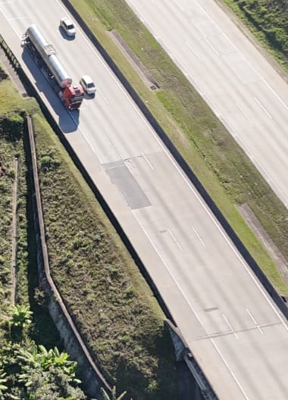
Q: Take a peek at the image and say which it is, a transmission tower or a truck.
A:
truck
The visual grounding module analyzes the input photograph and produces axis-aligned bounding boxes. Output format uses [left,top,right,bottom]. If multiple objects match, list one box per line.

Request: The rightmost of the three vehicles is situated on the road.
[78,77,97,96]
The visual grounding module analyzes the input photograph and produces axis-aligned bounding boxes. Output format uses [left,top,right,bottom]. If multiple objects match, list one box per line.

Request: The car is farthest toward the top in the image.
[57,19,76,37]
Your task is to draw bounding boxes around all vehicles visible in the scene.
[78,77,97,96]
[23,26,89,108]
[57,19,76,37]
